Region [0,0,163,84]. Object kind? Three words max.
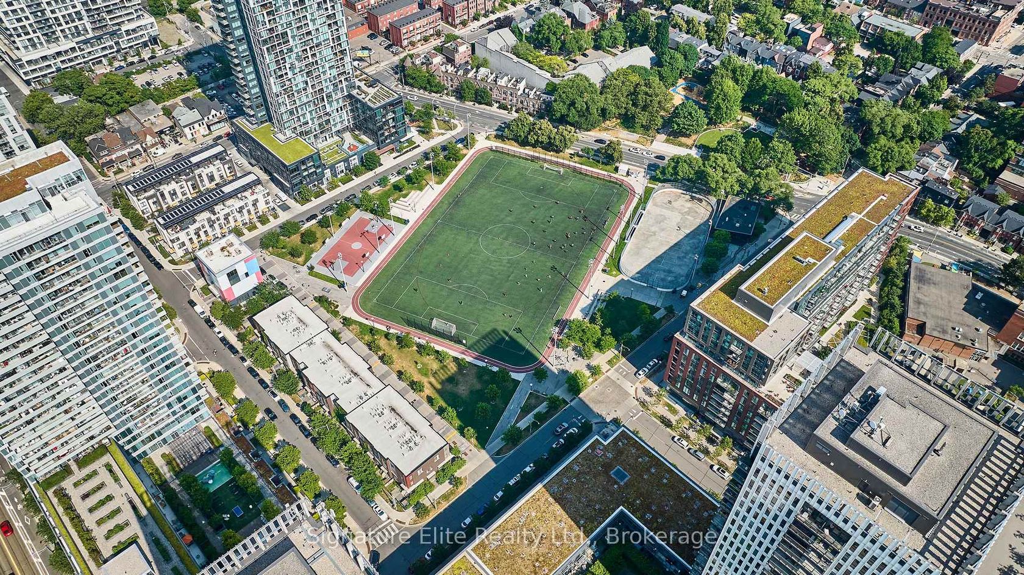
building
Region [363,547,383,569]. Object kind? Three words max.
vehicle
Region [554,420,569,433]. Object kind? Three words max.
vehicle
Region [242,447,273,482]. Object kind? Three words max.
house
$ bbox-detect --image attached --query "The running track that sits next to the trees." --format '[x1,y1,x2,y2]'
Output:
[354,147,634,372]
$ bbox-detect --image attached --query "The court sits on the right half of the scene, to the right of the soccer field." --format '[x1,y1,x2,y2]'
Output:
[621,182,714,290]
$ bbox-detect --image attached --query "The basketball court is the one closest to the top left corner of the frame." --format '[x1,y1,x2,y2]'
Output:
[305,209,407,285]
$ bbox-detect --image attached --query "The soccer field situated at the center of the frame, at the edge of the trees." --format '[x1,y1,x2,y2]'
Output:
[361,150,628,365]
